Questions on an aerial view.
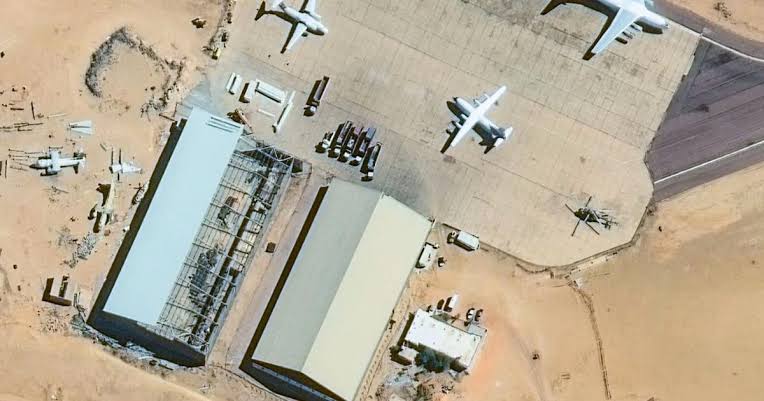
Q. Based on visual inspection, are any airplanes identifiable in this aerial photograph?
Yes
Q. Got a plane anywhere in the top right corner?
Yes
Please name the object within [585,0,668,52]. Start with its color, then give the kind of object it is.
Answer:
white airplane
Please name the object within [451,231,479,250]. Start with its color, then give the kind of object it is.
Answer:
white vehicle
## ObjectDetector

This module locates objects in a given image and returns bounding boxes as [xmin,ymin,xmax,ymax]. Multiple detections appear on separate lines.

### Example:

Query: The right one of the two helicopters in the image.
[575,193,626,229]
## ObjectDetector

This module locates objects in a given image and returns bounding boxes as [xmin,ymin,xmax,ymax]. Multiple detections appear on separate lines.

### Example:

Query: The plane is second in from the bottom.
[451,87,515,146]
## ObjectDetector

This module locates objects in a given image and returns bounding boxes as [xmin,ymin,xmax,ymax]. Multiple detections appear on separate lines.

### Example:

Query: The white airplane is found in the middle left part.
[34,148,89,175]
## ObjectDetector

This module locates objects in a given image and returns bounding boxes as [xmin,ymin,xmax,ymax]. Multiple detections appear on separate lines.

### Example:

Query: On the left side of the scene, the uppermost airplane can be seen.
[272,0,327,48]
